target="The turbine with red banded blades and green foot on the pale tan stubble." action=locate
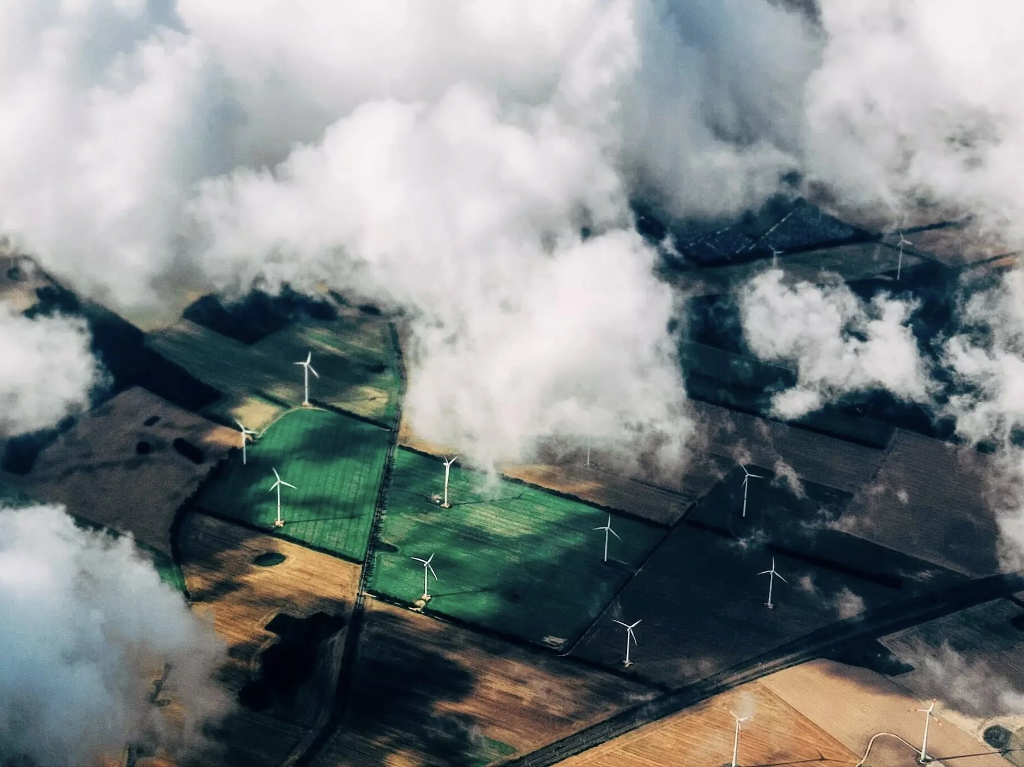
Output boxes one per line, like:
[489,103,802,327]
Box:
[914,695,944,762]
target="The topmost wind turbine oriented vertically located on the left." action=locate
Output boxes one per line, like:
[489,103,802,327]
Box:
[295,351,317,402]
